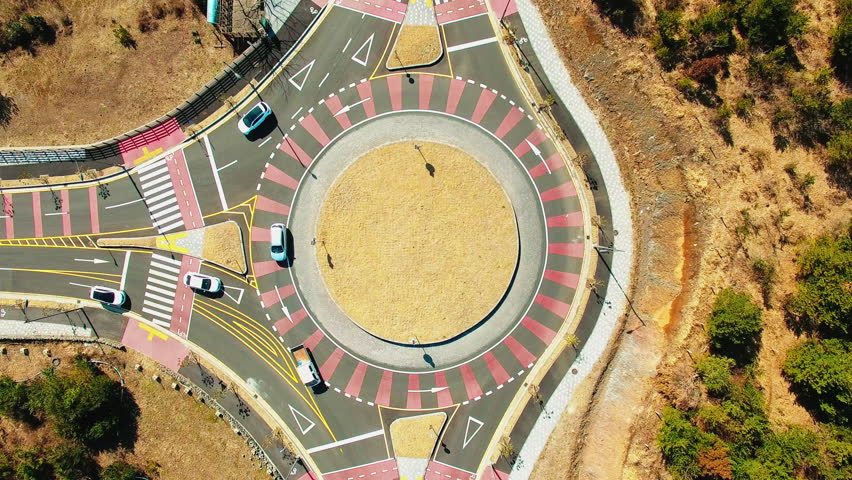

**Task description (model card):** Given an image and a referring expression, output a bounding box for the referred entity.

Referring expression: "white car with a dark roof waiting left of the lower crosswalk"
[87,285,126,306]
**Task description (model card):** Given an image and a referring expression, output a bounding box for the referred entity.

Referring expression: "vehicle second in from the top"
[269,223,288,261]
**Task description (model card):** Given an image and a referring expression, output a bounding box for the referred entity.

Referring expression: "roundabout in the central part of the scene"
[250,74,584,408]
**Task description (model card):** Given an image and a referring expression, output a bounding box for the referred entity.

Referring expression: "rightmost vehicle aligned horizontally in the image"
[181,271,223,294]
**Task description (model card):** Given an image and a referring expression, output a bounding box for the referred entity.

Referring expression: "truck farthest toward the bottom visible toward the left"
[290,344,320,388]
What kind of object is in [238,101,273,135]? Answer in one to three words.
car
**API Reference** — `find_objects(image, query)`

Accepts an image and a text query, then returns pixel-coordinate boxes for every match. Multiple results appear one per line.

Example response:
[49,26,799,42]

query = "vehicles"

[269,223,288,261]
[238,101,273,135]
[87,285,126,306]
[181,271,223,294]
[290,344,320,388]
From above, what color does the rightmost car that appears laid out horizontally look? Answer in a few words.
white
